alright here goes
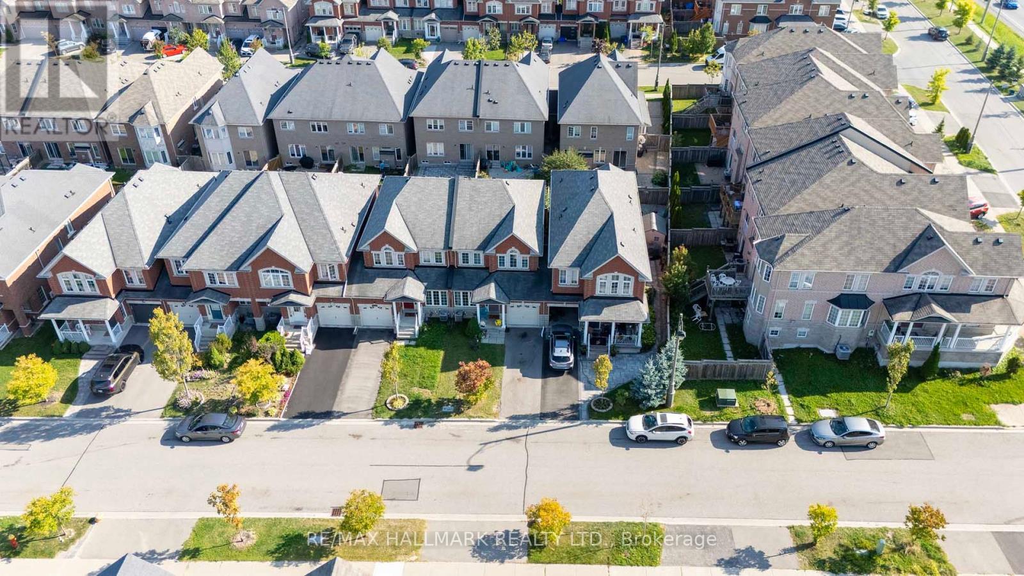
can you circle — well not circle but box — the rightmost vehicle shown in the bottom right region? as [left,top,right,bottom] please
[806,413,889,448]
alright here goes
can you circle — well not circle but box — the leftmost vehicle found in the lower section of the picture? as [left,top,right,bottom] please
[89,334,144,383]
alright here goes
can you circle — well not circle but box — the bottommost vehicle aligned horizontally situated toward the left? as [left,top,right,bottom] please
[174,408,252,442]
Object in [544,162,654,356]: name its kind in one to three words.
house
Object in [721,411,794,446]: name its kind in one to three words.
car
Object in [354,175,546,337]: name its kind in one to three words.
house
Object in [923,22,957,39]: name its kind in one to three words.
car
